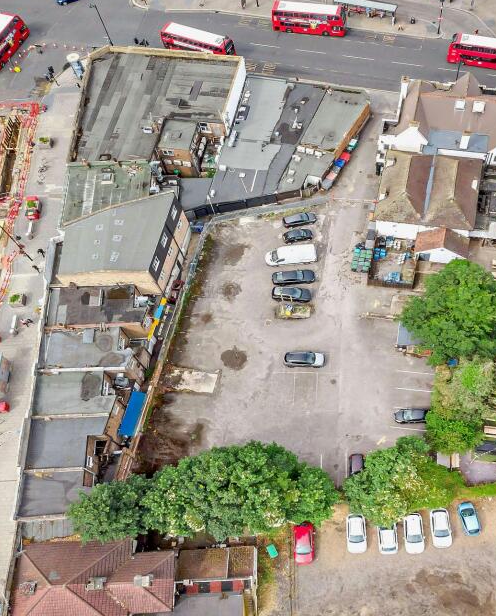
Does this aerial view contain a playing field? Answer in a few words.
No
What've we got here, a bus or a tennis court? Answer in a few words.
bus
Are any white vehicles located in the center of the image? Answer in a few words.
Yes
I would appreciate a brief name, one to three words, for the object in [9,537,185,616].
house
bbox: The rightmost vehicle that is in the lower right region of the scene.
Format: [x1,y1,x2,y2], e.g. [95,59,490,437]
[457,501,480,537]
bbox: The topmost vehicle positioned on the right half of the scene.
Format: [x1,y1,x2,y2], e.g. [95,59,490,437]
[274,0,343,39]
